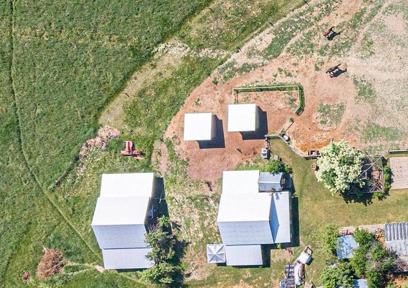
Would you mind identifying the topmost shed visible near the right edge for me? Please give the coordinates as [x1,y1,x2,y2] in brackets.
[385,222,408,241]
